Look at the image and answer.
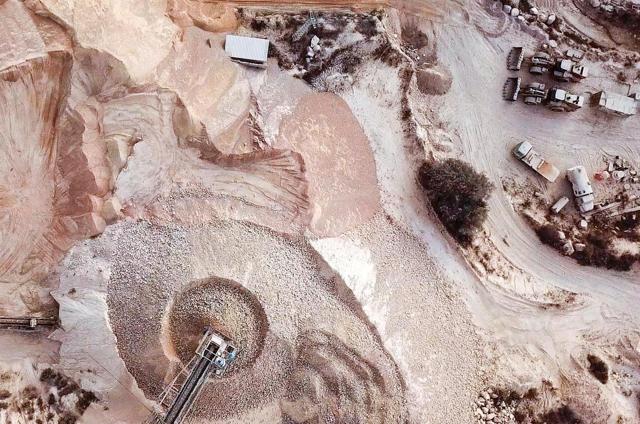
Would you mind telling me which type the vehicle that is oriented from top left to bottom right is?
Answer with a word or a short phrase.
truck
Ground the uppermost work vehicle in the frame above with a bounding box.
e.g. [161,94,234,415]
[512,46,595,81]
